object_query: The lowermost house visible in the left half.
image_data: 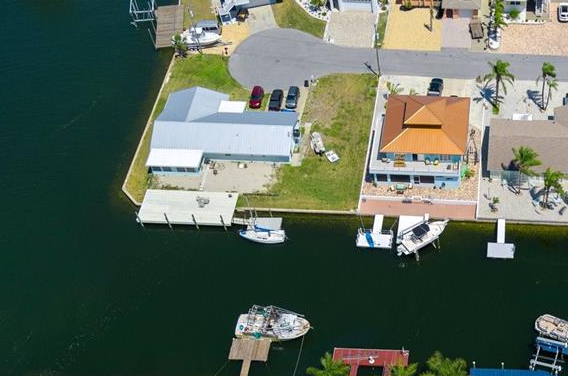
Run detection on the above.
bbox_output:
[146,86,298,177]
